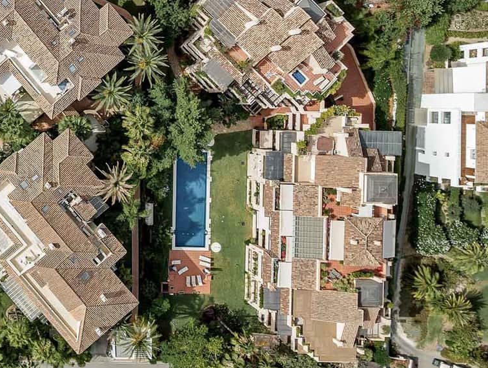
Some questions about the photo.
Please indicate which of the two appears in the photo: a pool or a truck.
pool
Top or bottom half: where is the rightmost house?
top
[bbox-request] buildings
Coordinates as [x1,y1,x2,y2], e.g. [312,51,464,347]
[0,129,139,353]
[0,0,134,120]
[239,110,403,365]
[172,0,357,118]
[410,44,488,192]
